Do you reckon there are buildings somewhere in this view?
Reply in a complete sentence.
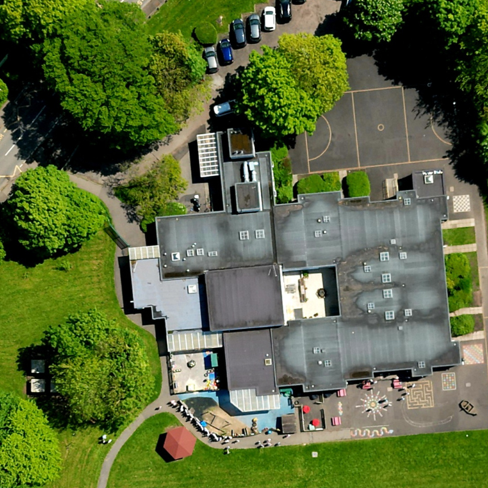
Yes, the photo shows a building.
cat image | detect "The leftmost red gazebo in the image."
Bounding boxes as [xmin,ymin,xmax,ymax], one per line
[163,426,197,459]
